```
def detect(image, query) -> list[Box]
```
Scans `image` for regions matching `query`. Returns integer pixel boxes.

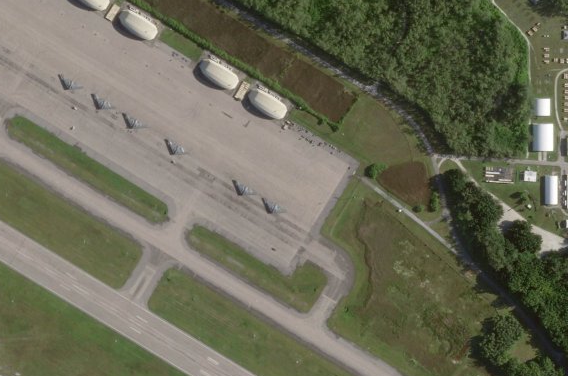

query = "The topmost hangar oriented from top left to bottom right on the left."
[119,8,158,40]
